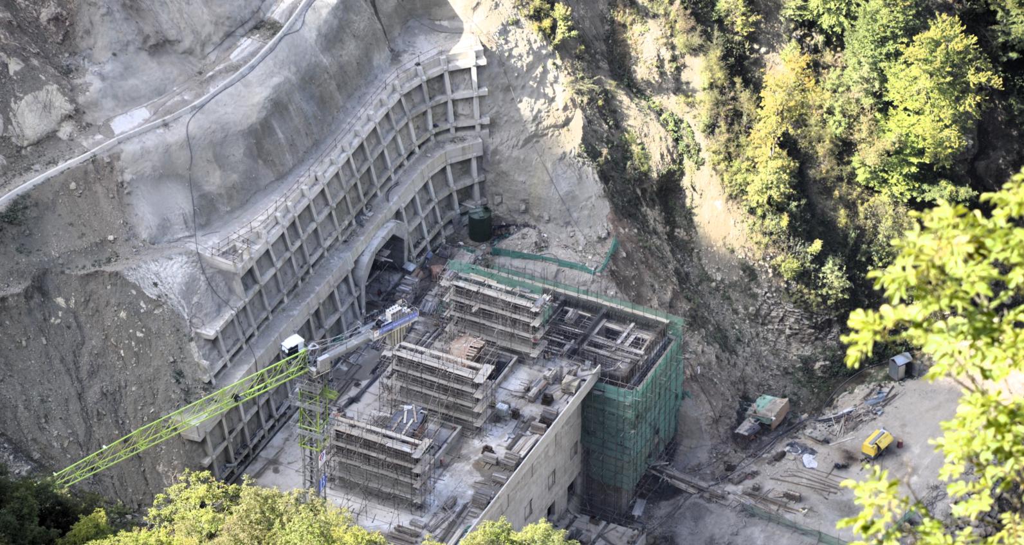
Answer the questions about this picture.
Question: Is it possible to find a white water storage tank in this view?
No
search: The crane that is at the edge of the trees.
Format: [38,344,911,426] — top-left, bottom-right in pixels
[56,303,423,506]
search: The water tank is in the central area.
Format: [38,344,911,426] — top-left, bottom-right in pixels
[467,204,492,244]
